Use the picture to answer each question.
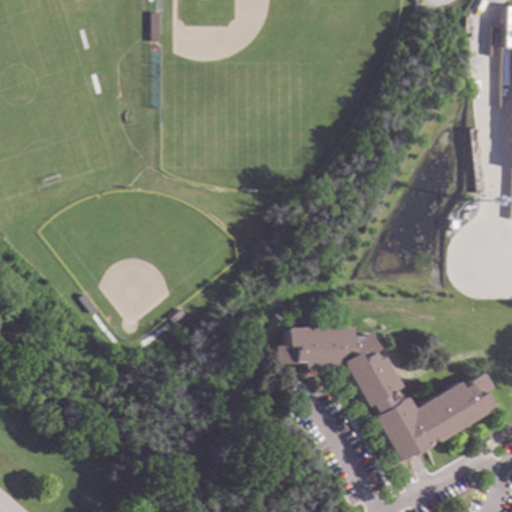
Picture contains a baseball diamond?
Yes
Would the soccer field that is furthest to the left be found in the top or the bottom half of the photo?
top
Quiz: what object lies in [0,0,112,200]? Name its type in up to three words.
soccer field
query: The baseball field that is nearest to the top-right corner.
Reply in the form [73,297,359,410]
[162,0,400,190]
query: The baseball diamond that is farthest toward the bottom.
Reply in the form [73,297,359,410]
[42,190,236,339]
